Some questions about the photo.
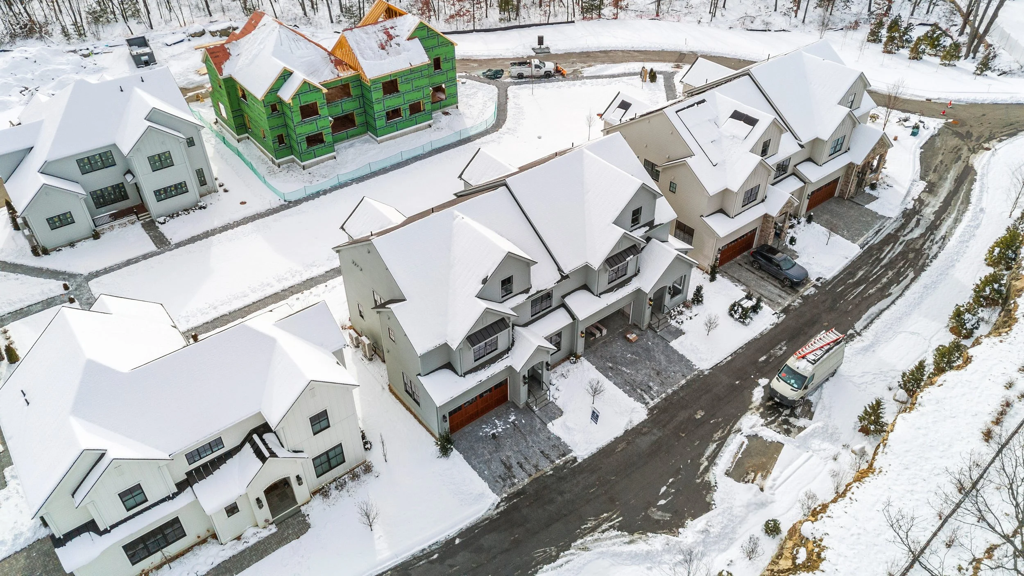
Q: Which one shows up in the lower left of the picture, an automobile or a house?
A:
house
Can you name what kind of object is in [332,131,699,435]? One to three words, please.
house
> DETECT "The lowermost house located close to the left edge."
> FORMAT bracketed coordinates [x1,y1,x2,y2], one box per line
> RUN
[0,293,365,576]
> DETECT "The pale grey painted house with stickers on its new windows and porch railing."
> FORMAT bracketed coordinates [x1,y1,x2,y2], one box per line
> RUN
[0,66,215,245]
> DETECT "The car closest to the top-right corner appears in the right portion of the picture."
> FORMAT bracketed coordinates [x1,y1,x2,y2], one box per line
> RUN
[750,245,810,287]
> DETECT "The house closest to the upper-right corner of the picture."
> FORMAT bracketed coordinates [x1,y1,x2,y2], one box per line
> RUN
[599,39,893,268]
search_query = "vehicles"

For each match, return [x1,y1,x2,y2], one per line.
[769,328,849,406]
[512,59,565,79]
[750,245,810,287]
